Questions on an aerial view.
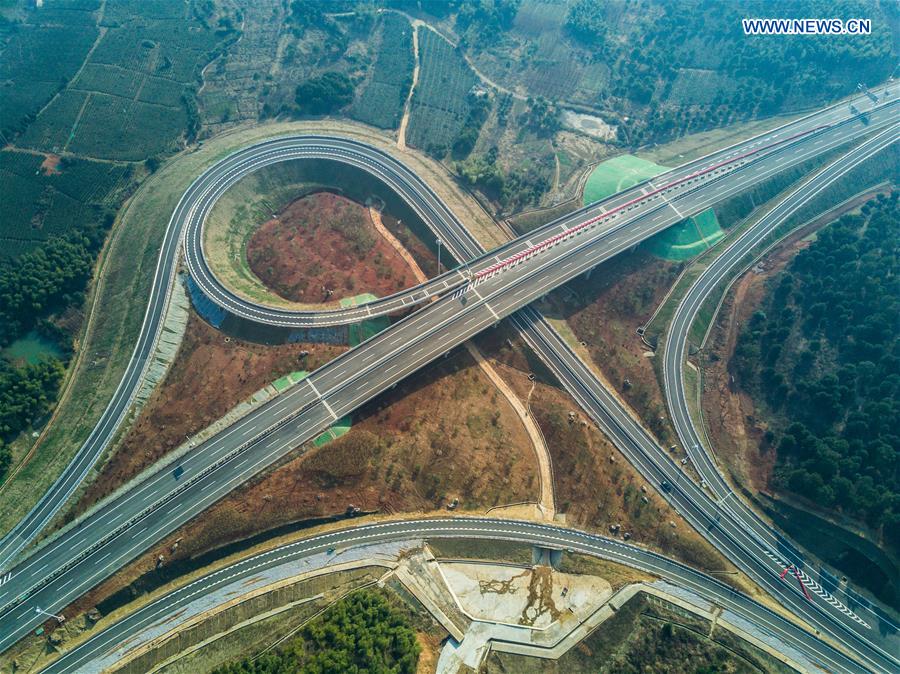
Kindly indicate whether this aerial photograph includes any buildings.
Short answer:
No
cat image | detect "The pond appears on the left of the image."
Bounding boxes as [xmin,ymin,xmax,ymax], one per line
[0,337,67,373]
